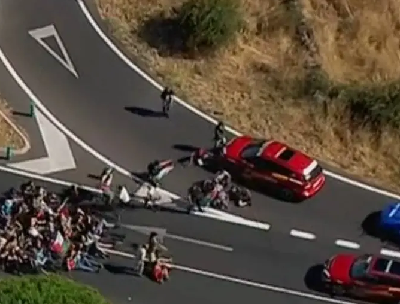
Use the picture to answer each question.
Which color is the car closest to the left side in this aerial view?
red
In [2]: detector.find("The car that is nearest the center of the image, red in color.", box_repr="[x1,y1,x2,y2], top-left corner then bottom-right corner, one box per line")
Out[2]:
[220,131,329,195]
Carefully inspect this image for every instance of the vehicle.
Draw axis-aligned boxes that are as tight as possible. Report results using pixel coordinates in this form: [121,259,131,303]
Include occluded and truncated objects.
[325,245,400,300]
[220,131,329,195]
[383,197,400,239]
